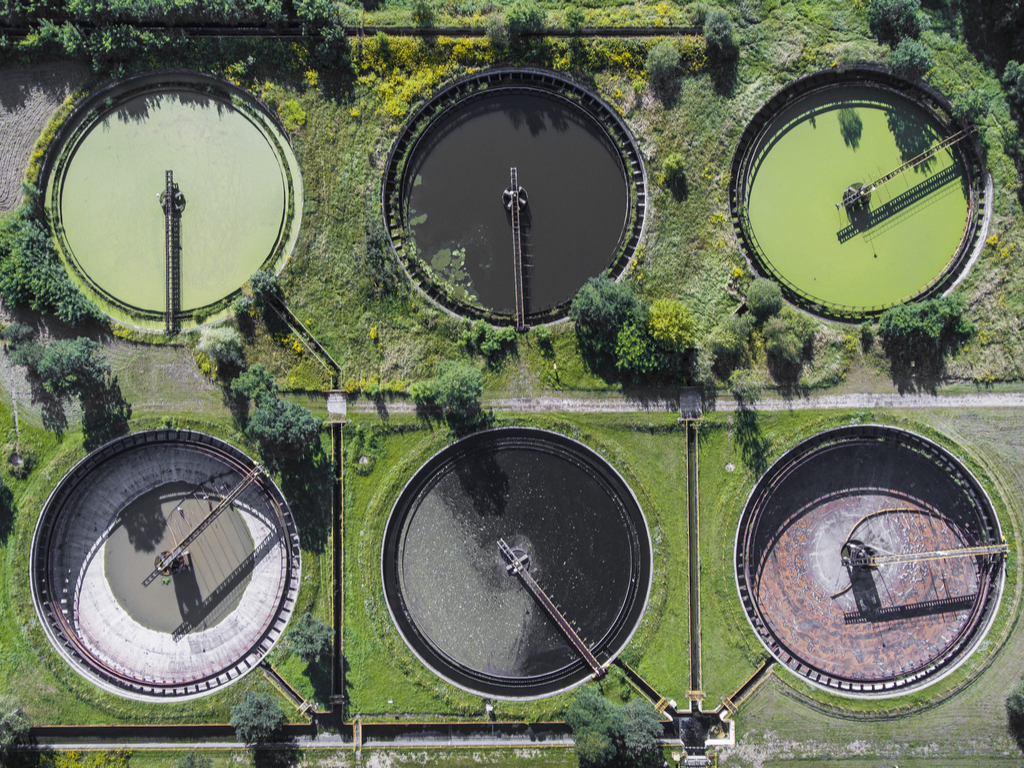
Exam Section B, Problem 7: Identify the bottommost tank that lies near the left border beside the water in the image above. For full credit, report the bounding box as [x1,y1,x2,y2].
[29,430,301,701]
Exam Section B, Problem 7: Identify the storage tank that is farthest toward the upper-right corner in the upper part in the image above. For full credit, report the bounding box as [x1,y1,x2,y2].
[729,64,992,326]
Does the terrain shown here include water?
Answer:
Yes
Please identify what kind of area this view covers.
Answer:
industrial area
